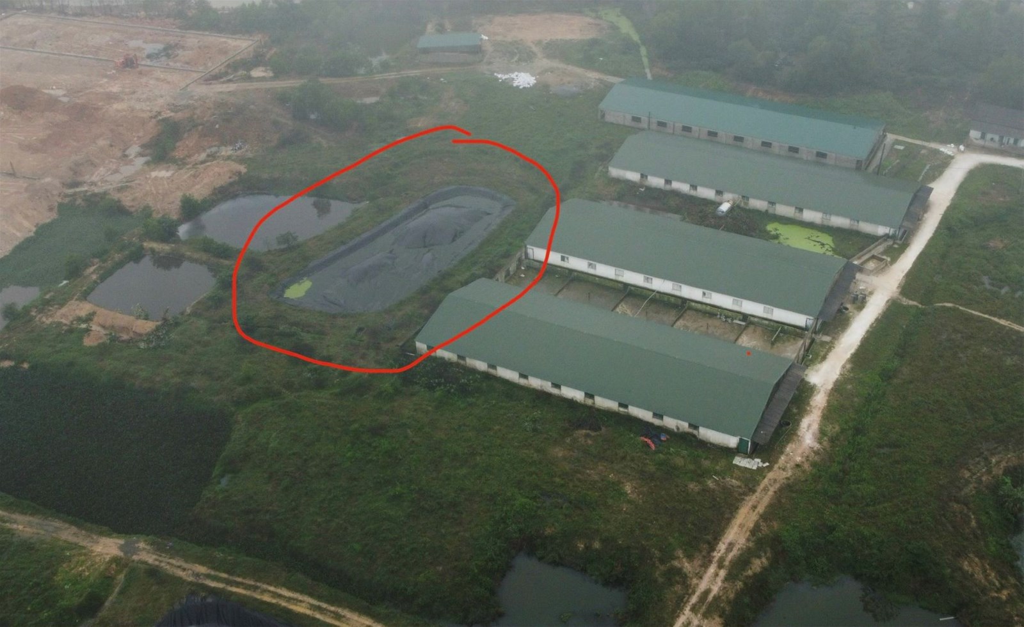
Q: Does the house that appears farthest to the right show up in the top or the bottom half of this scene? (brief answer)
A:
top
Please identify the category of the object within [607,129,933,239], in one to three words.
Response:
shed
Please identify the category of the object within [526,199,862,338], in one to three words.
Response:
shed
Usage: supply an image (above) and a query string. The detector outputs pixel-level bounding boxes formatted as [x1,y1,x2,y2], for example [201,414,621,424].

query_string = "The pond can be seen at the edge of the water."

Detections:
[274,184,518,315]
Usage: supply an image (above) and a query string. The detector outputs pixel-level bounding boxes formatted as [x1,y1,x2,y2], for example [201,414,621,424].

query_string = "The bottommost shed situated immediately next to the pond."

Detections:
[414,277,806,455]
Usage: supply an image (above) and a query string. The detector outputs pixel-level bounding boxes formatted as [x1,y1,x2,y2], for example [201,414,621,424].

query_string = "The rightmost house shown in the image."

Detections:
[968,110,1024,158]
